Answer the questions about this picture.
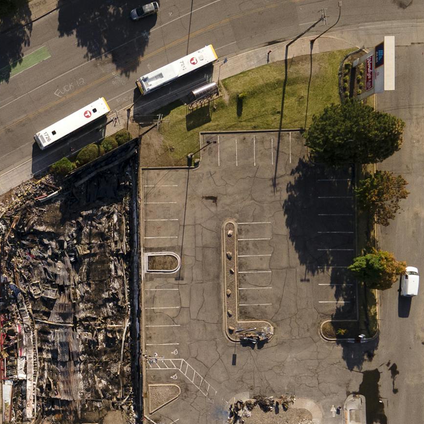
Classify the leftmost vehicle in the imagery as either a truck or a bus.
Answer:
bus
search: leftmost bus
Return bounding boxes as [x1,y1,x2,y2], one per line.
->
[33,93,115,152]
